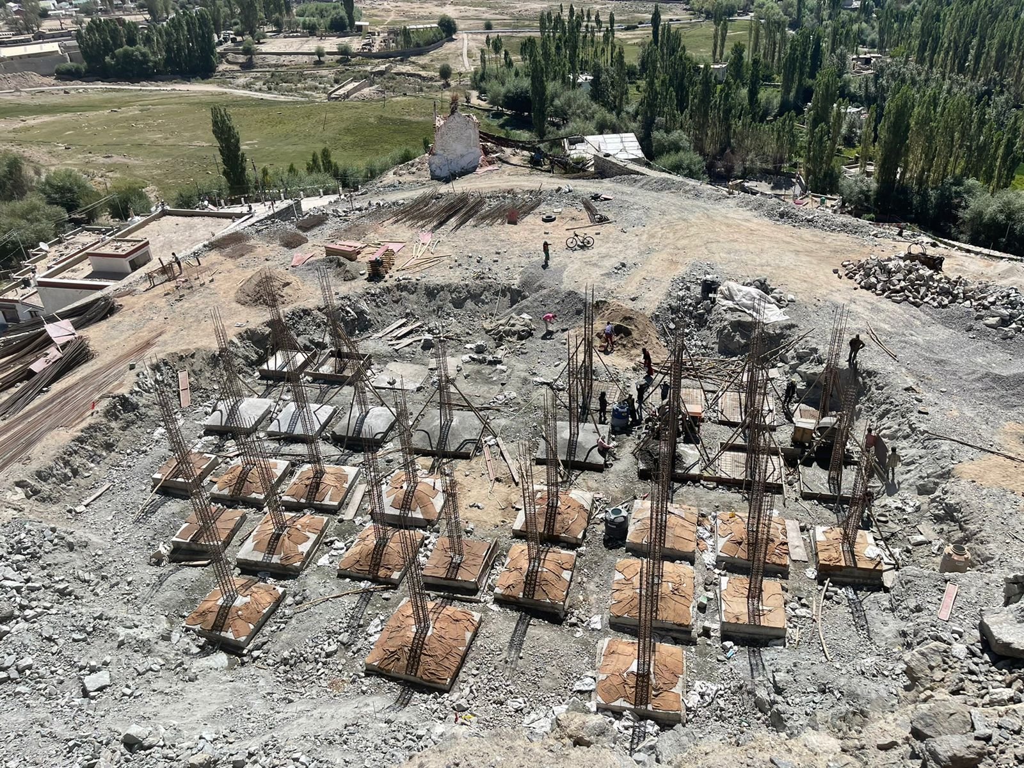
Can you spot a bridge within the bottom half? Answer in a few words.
No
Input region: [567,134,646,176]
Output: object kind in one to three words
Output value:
house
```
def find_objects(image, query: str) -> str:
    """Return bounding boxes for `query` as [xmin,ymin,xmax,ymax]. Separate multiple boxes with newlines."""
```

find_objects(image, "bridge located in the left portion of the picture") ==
[327,69,370,100]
